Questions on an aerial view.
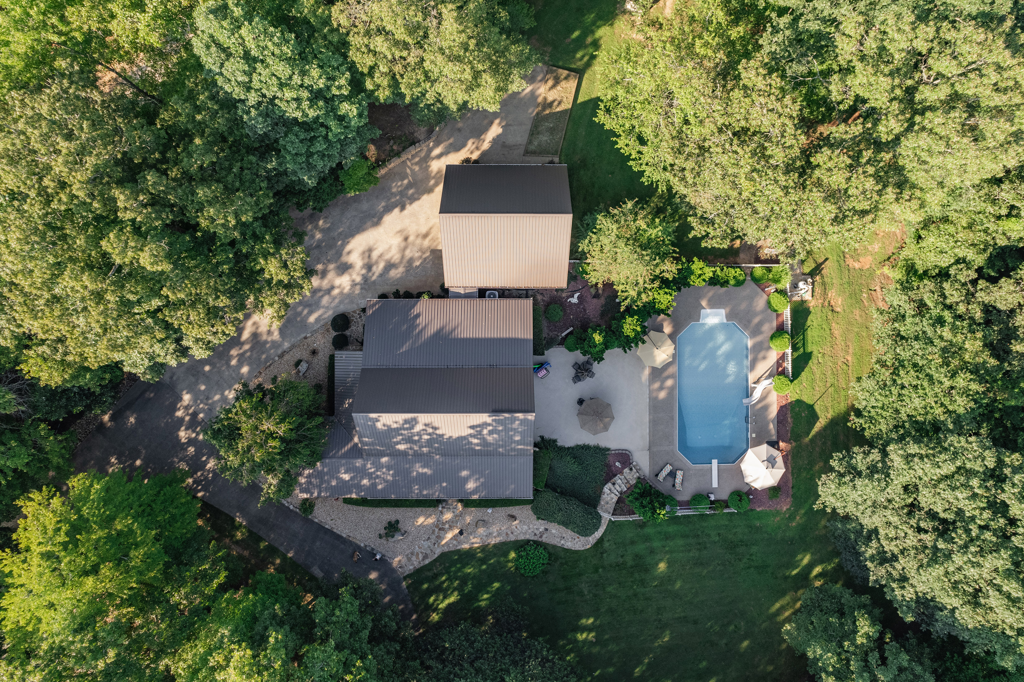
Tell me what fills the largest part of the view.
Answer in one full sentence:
The largest share of the image is taken up by trees.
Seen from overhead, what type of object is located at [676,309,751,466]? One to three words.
swimming pool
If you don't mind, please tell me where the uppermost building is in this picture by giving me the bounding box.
[439,163,573,289]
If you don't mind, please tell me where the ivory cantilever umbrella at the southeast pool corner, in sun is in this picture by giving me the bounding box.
[740,439,788,490]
